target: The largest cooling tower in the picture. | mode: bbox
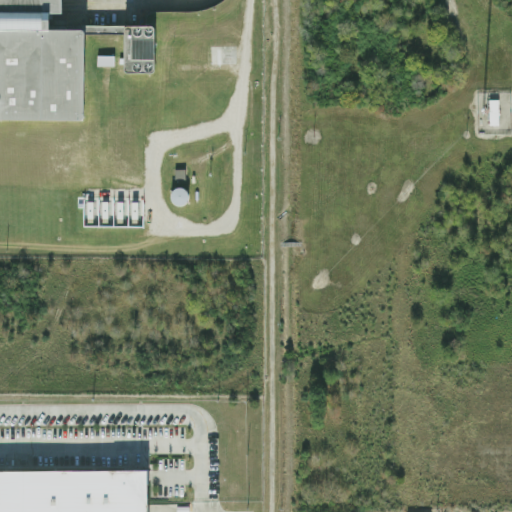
[124,26,156,73]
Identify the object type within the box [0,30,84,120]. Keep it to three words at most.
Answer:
building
